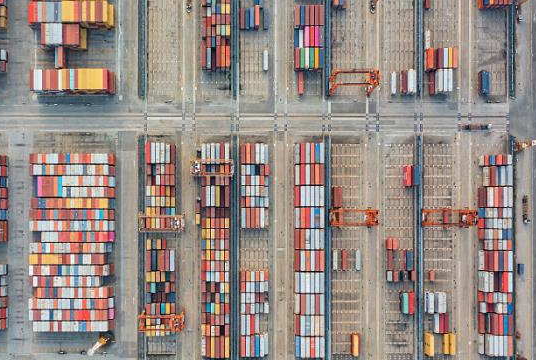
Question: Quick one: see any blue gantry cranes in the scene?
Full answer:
No, this view has no blue gantry crane in it.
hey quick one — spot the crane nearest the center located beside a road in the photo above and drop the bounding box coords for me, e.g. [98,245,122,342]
[189,158,235,181]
